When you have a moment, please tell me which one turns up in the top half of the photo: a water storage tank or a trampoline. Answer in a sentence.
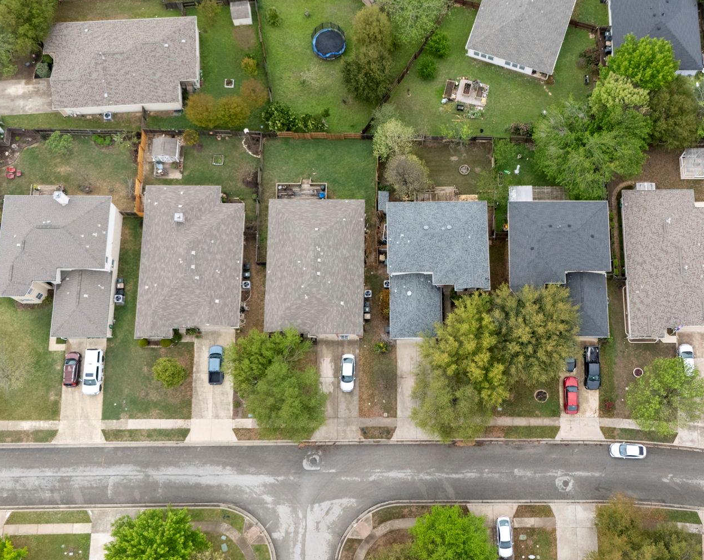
What appears in the top half of the photo is a trampoline.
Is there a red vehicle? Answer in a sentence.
Yes, this view includes a red vehicle.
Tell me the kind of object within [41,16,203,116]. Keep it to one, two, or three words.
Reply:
house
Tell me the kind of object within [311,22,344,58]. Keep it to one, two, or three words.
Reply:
trampoline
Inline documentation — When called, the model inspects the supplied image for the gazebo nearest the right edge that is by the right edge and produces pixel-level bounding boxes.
[678,148,704,180]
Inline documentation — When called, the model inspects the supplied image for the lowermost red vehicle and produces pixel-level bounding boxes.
[563,376,581,416]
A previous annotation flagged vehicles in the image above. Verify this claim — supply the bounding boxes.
[583,344,603,391]
[206,345,224,386]
[81,349,103,395]
[563,376,581,416]
[338,354,357,393]
[62,349,83,389]
[608,441,648,459]
[680,343,700,380]
[496,515,514,559]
